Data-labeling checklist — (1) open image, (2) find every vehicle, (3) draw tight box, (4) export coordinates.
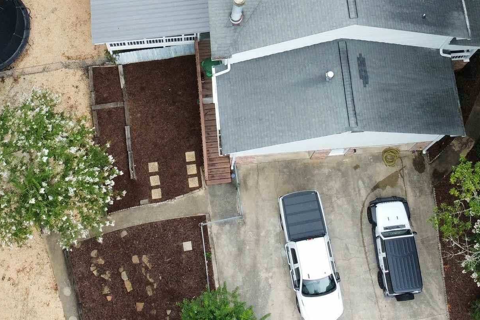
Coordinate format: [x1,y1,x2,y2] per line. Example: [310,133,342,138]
[368,195,422,296]
[274,189,346,320]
